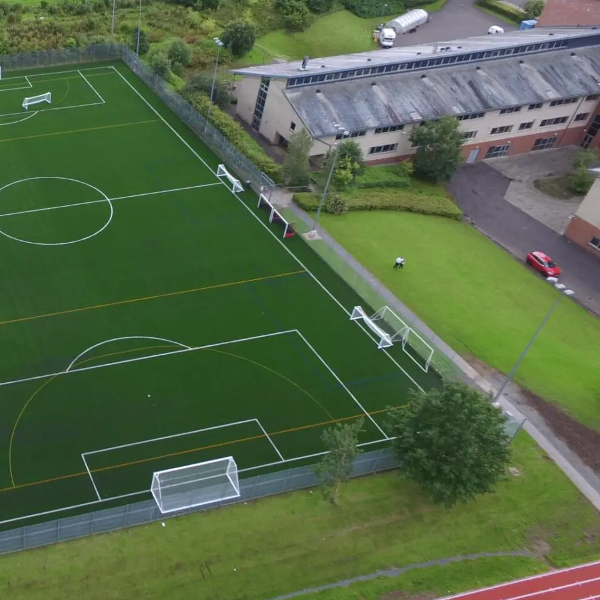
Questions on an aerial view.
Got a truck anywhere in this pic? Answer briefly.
Yes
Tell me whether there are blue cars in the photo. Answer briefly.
No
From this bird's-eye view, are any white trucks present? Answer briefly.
Yes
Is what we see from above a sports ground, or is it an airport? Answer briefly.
sports ground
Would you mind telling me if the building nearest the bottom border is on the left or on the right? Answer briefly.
right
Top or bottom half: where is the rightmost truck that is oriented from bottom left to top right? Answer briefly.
top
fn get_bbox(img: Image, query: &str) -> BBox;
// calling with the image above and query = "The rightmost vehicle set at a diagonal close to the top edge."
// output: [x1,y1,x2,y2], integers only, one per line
[369,11,426,50]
